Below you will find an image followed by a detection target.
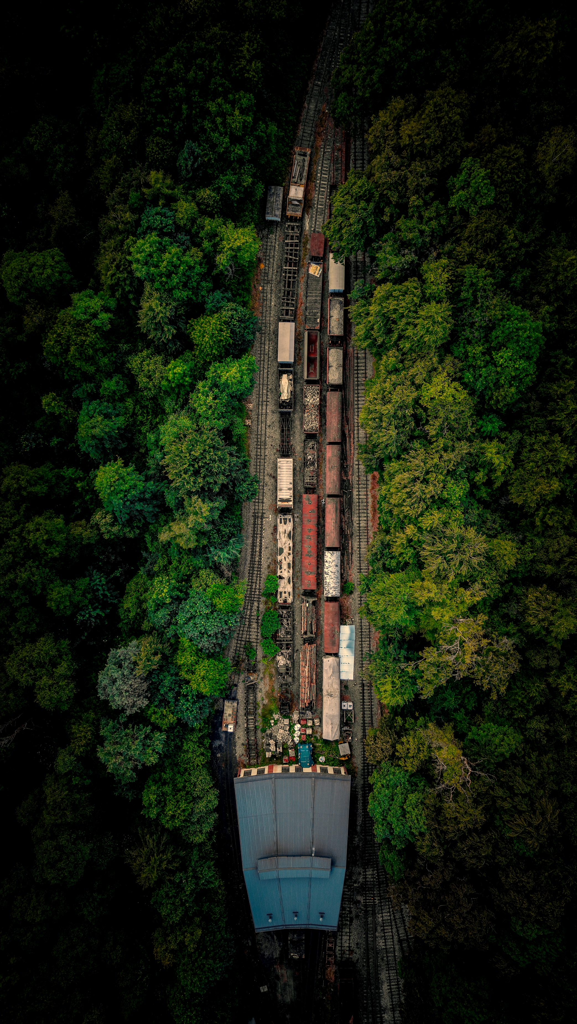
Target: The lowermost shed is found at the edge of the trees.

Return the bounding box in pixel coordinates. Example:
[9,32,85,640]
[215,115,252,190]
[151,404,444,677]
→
[233,764,351,933]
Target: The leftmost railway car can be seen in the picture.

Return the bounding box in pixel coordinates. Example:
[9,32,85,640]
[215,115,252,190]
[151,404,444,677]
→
[222,697,237,732]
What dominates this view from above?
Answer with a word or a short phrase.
trees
